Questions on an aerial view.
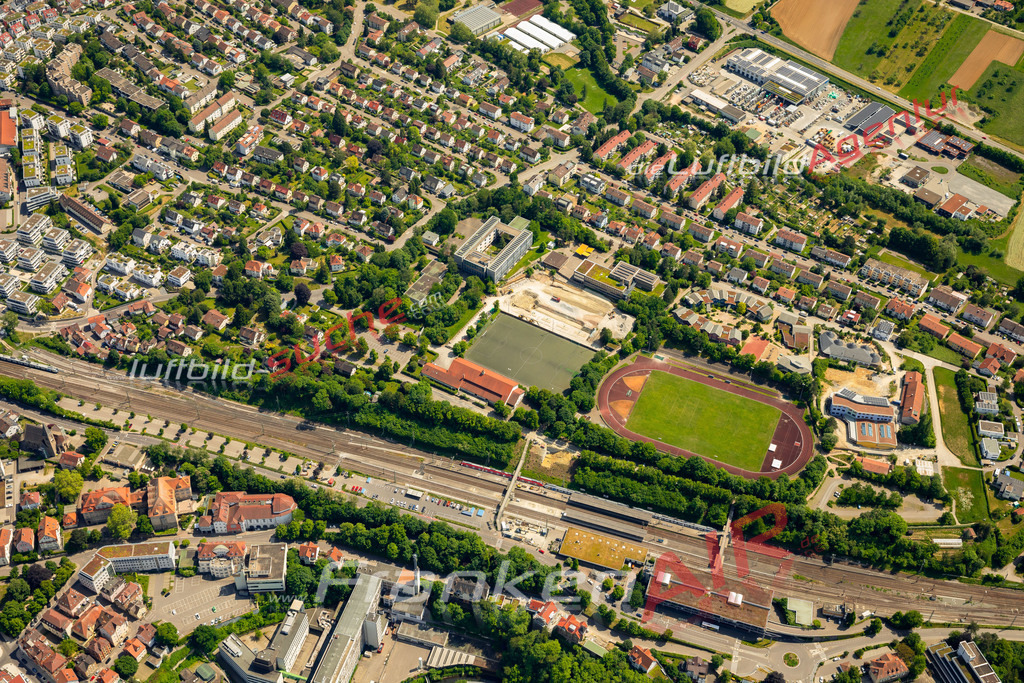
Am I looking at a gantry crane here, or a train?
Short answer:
train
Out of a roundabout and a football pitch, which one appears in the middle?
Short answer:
football pitch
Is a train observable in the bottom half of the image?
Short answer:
Yes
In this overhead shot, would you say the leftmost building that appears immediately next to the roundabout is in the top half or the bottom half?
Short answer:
bottom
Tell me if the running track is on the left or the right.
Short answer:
right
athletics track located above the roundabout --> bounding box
[597,363,814,480]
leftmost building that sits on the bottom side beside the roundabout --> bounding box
[645,559,773,635]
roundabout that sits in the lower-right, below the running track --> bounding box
[765,641,816,676]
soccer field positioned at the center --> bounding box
[465,312,593,392]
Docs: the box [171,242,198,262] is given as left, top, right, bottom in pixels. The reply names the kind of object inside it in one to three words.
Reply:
house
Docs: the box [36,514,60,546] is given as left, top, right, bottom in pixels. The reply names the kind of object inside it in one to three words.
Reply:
house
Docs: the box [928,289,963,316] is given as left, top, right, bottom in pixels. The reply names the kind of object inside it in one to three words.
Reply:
building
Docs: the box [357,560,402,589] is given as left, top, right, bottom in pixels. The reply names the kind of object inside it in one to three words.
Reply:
building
